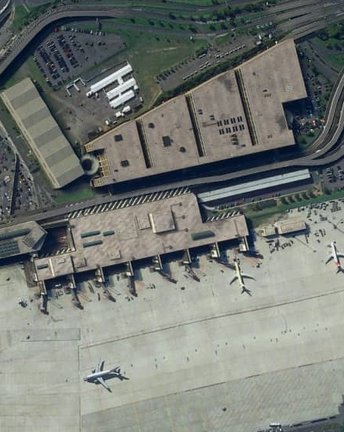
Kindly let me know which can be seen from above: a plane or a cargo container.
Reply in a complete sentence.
It is a plane that can be seen here.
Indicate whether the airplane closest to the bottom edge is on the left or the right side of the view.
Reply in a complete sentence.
It is on the left.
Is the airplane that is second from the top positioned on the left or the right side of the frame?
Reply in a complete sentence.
The airplane that is second from the top is on the right side of the image.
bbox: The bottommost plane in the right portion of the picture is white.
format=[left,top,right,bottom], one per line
[229,262,255,290]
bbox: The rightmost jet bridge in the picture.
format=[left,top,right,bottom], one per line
[236,237,266,259]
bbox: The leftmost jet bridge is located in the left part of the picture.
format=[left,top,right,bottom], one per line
[37,280,50,316]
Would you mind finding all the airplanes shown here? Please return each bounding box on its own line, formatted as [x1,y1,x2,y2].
[229,262,255,290]
[325,241,344,270]
[83,356,122,390]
